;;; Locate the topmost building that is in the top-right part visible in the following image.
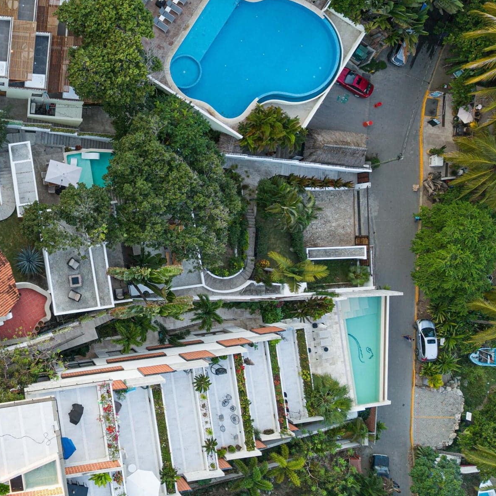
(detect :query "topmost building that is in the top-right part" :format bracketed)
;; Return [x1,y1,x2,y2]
[346,43,375,69]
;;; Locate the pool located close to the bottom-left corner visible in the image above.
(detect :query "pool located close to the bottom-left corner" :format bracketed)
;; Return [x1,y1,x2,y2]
[22,458,61,491]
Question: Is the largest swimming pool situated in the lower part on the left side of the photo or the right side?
right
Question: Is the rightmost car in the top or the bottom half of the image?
bottom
